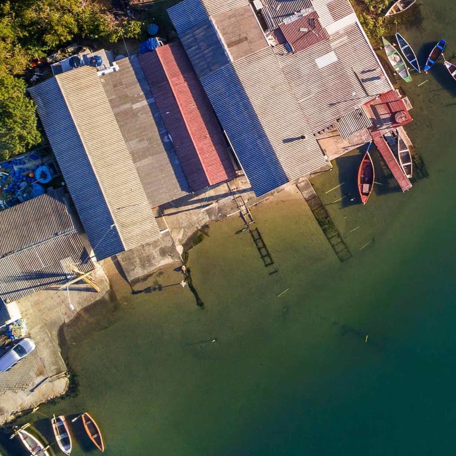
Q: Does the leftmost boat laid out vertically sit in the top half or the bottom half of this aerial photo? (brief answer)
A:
bottom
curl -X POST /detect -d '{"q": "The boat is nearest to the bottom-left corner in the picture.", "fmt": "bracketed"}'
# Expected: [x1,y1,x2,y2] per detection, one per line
[19,429,50,456]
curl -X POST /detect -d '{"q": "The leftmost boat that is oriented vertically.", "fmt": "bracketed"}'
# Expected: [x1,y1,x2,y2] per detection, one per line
[52,415,72,455]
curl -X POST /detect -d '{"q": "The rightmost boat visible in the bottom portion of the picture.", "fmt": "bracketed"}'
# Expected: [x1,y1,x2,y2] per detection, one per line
[82,412,105,452]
